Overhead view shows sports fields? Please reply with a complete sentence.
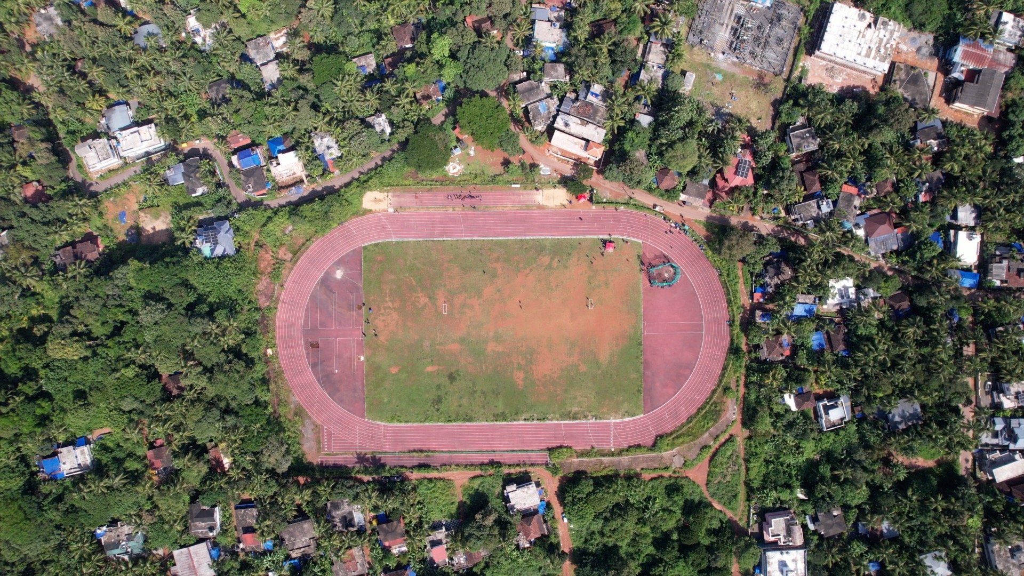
Yes, I can see a sports field in this picture.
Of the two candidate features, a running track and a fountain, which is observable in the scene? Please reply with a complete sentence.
The one in the frame is a running track.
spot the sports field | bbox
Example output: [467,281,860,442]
[363,237,643,423]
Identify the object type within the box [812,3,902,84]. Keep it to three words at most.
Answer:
building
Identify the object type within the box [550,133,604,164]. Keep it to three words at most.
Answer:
house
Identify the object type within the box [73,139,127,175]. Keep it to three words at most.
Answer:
house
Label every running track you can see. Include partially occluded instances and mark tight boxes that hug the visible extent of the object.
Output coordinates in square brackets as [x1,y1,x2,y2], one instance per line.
[276,209,730,451]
